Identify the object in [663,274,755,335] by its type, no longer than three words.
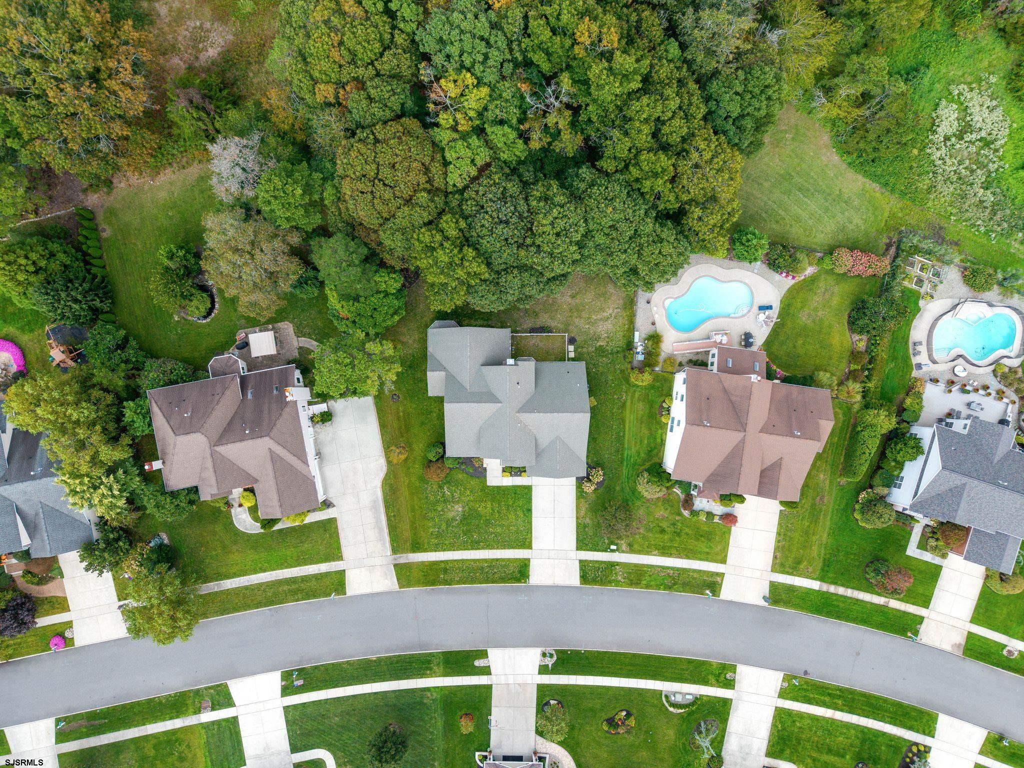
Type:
swimming pool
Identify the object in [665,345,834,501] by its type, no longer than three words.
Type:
house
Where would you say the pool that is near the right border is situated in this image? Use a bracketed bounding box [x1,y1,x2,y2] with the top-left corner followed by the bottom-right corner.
[933,298,1023,367]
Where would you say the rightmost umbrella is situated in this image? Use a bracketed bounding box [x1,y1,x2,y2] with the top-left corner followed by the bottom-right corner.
[950,364,967,378]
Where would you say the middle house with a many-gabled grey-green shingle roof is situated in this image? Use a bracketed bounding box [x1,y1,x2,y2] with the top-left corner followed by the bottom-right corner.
[427,320,590,478]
